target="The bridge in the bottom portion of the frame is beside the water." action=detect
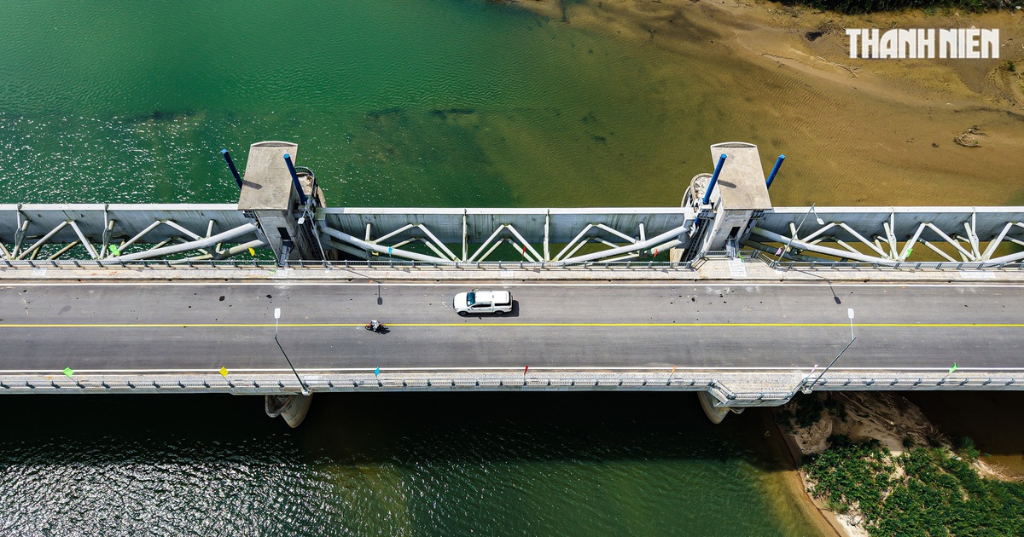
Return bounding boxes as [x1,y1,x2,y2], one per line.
[0,253,1024,407]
